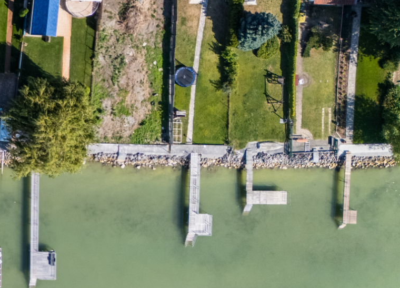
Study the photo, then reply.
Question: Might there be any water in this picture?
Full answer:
Yes, water shows up in the scene.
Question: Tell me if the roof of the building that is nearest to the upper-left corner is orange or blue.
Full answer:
The roof of the building that is nearest to the upper-left corner looks blue in the image.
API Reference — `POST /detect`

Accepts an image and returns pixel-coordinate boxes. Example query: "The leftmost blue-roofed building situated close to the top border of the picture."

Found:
[29,0,60,36]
